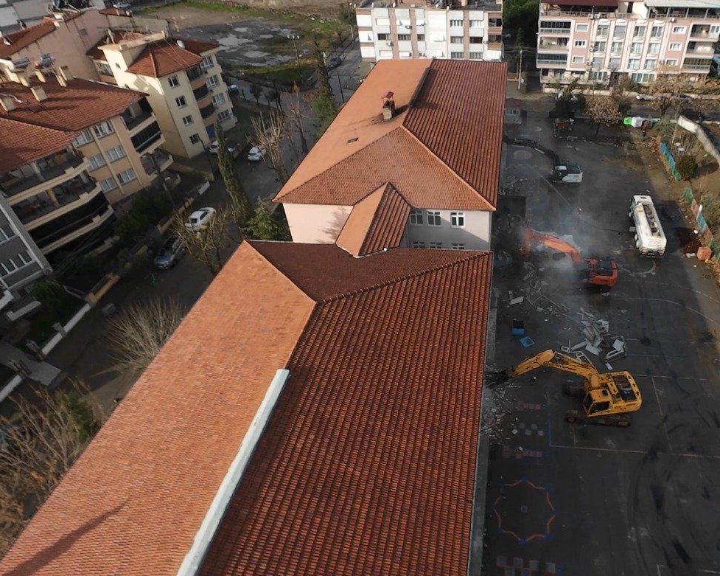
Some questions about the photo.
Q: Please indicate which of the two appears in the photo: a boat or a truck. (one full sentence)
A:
This aerial view contains a truck.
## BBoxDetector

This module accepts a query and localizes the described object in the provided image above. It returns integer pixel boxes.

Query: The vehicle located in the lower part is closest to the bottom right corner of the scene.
[494,351,646,425]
